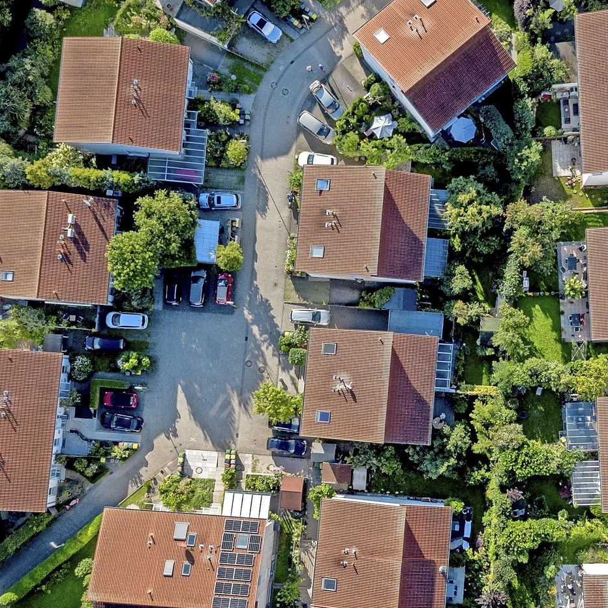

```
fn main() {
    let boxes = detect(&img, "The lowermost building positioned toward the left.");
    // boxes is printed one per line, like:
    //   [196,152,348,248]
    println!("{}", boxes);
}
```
[87,504,274,608]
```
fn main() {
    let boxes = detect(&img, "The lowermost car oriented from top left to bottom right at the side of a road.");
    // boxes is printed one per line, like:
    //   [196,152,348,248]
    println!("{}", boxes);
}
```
[295,109,337,143]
